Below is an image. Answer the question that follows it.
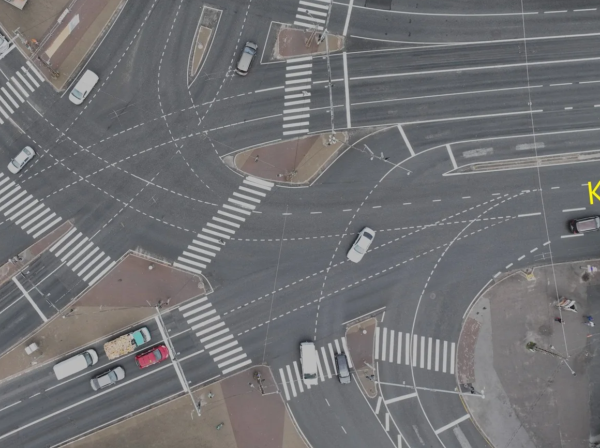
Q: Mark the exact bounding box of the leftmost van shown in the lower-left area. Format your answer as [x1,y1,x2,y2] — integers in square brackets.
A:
[52,349,98,383]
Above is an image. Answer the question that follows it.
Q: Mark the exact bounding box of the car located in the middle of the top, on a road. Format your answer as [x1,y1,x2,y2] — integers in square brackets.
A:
[236,41,258,77]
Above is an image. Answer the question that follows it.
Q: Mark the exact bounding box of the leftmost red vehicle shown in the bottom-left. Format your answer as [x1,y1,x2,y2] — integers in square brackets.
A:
[134,347,170,371]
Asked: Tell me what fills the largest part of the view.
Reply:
paved ground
